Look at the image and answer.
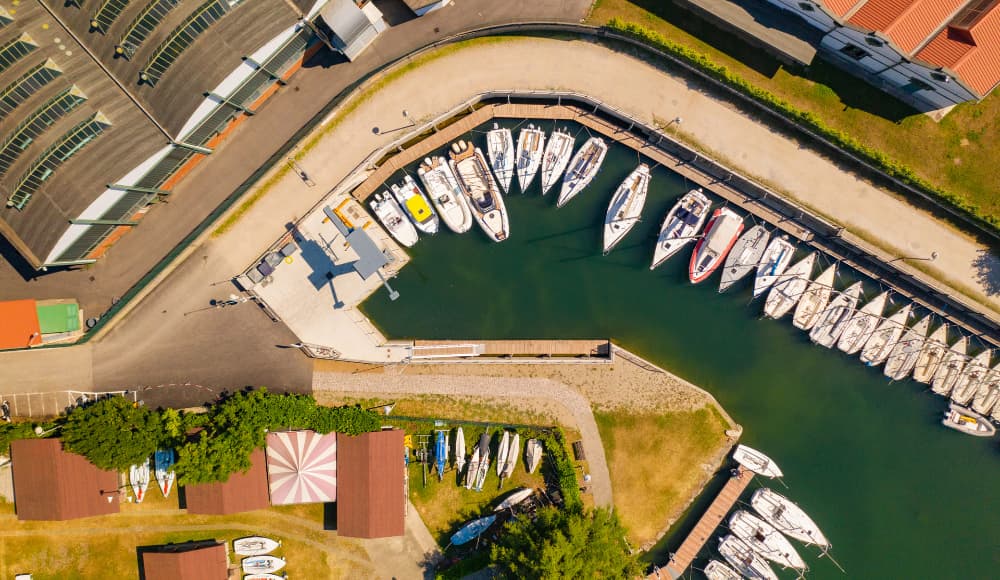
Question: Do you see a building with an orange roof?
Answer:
Yes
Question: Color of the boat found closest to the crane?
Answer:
white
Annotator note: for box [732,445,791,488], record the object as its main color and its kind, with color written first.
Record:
white boat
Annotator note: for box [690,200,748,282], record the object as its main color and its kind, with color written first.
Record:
white boat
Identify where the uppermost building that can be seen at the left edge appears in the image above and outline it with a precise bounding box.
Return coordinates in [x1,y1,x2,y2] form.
[0,0,342,272]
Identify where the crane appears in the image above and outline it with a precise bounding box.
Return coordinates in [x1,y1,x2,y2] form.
[322,207,400,300]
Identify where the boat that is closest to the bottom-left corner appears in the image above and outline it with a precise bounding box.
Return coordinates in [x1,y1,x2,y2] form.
[130,461,150,505]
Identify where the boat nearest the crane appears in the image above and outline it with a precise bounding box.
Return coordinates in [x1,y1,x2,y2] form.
[369,187,414,245]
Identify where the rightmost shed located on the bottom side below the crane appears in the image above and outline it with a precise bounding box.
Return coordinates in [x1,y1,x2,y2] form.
[337,431,405,538]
